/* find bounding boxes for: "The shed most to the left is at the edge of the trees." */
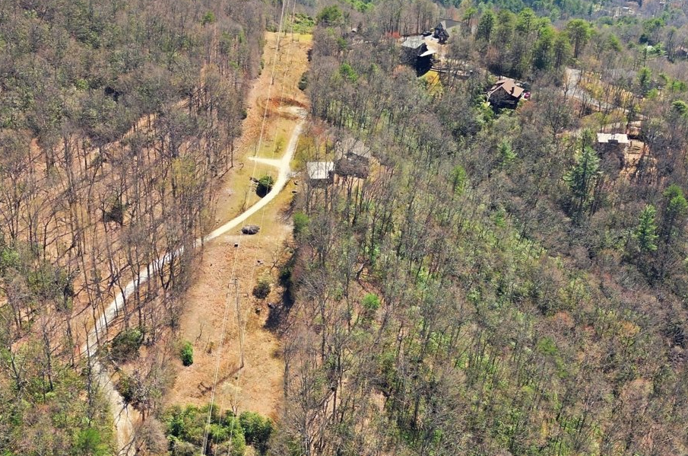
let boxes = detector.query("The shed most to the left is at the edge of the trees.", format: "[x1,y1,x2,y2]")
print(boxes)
[307,164,336,186]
